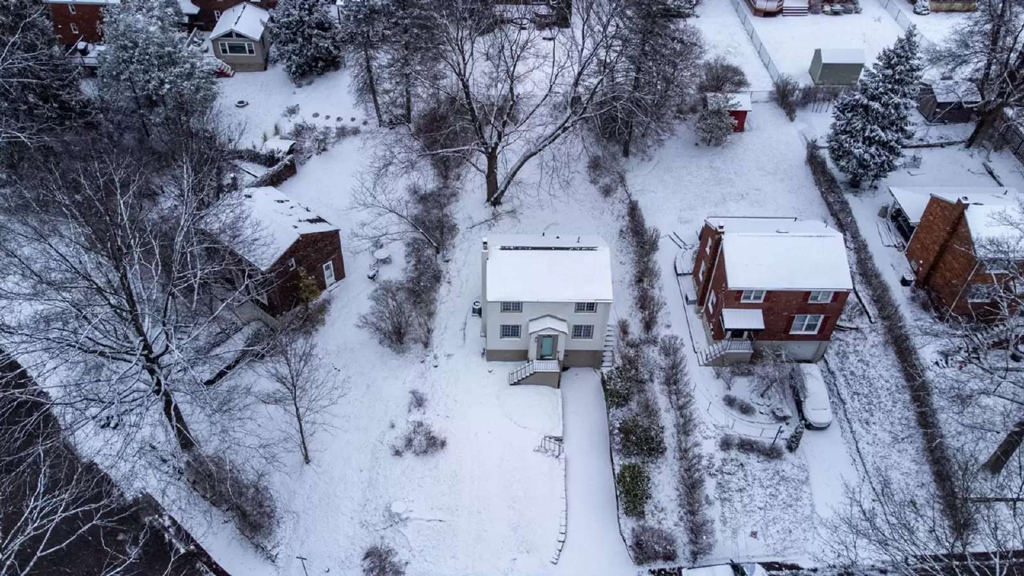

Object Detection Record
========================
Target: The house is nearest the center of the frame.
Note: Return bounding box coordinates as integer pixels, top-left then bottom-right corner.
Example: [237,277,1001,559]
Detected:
[476,230,614,383]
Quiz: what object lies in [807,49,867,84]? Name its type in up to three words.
shed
